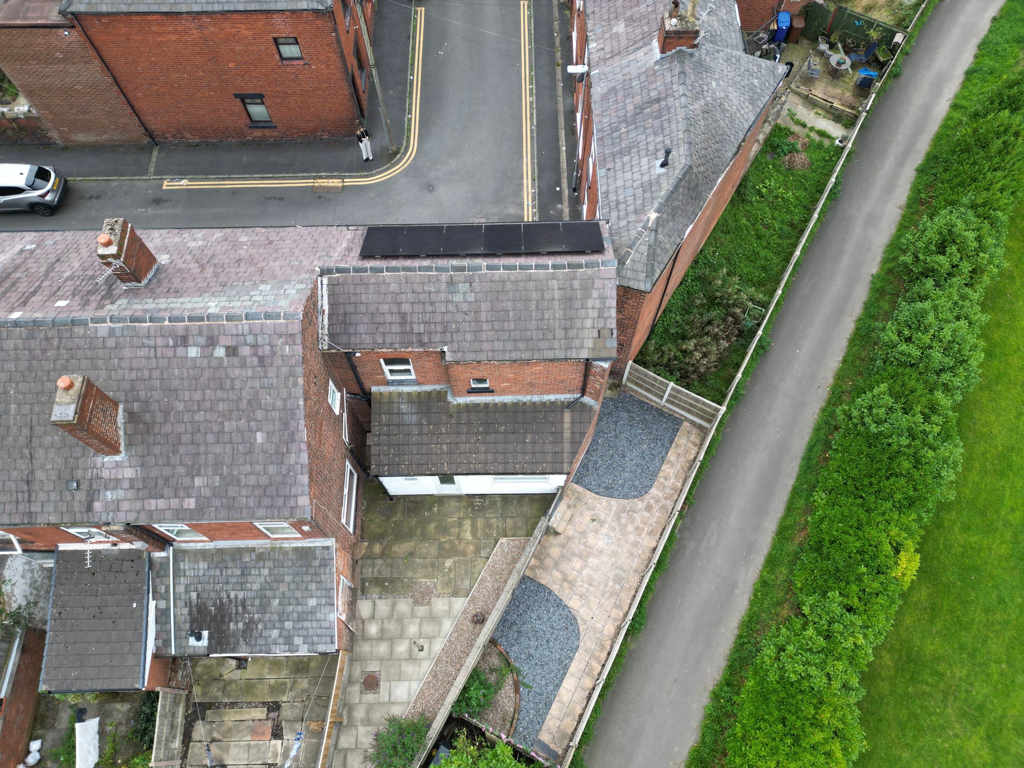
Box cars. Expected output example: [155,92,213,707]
[0,158,69,218]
